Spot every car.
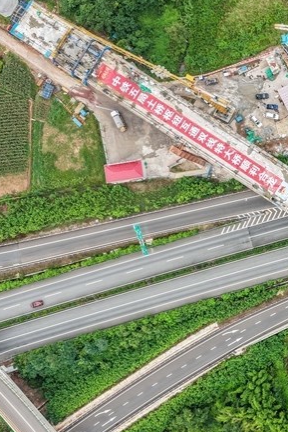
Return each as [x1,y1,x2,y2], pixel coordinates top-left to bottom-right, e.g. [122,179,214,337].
[265,103,279,109]
[29,301,43,309]
[264,112,279,120]
[204,77,218,85]
[250,114,262,127]
[254,92,269,100]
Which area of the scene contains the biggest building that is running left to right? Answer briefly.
center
